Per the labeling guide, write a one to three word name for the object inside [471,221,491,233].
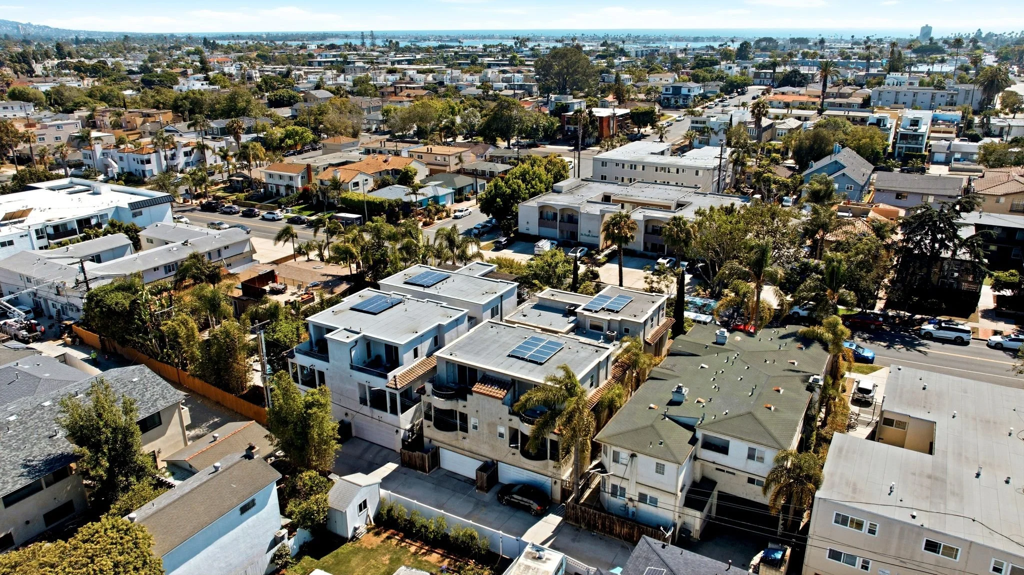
vehicle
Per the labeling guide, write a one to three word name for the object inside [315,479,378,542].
shed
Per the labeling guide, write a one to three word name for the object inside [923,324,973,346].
car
